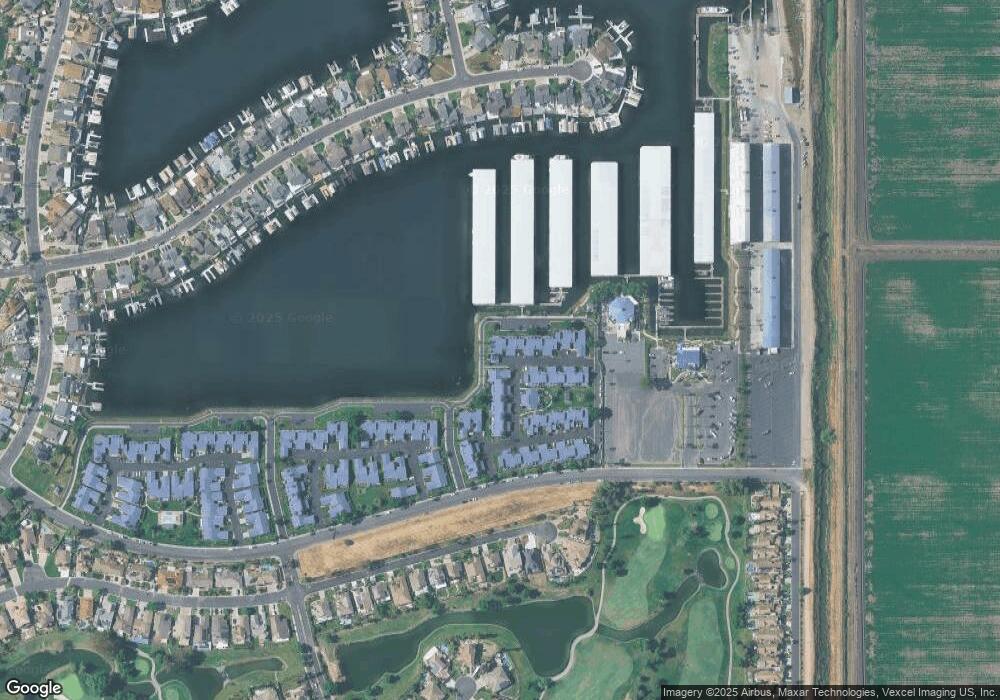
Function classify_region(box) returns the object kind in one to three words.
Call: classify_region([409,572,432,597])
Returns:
house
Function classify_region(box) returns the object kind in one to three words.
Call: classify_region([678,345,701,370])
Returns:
building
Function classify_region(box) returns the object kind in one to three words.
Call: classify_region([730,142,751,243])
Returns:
shed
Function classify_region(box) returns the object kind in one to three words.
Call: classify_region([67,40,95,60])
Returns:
house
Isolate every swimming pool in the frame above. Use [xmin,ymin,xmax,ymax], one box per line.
[158,511,184,525]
